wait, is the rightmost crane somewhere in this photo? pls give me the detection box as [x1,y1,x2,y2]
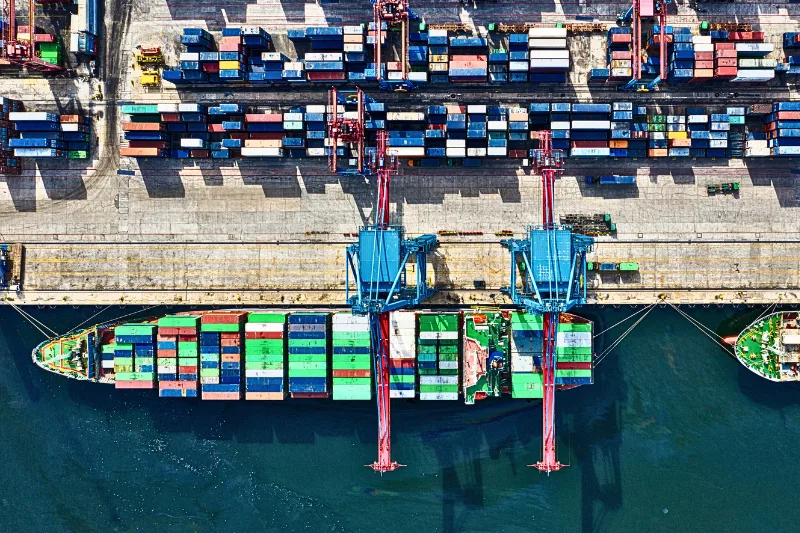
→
[615,0,667,93]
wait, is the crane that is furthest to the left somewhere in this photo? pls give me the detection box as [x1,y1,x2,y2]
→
[2,0,88,76]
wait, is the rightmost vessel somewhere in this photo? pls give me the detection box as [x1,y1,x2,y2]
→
[721,314,800,388]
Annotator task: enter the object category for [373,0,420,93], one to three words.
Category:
container crane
